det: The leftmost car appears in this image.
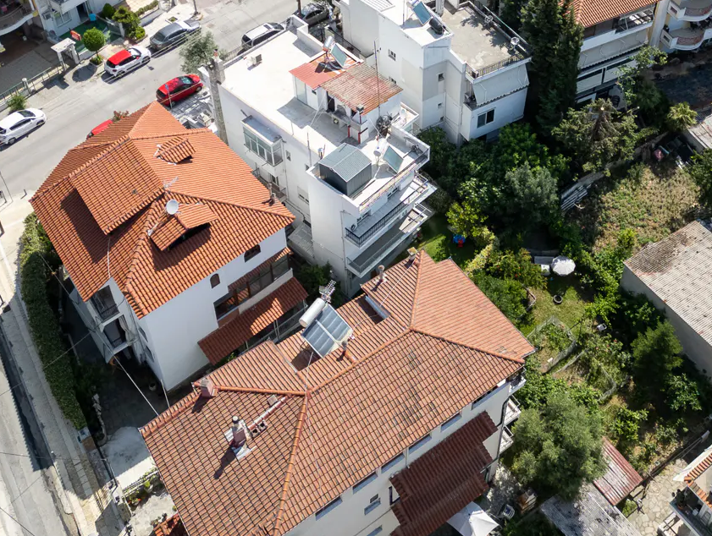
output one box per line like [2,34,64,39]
[0,100,49,139]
